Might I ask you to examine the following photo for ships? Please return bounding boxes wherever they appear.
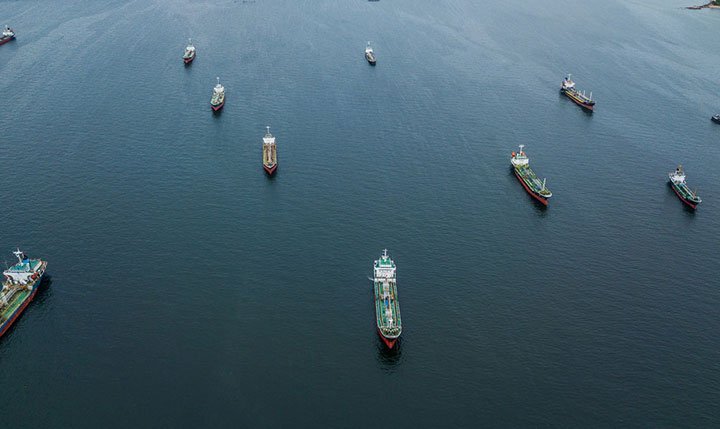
[262,126,277,175]
[0,250,48,337]
[365,47,378,65]
[558,77,597,111]
[210,78,226,110]
[181,41,196,63]
[0,27,14,44]
[662,166,709,210]
[506,146,554,205]
[368,255,401,347]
